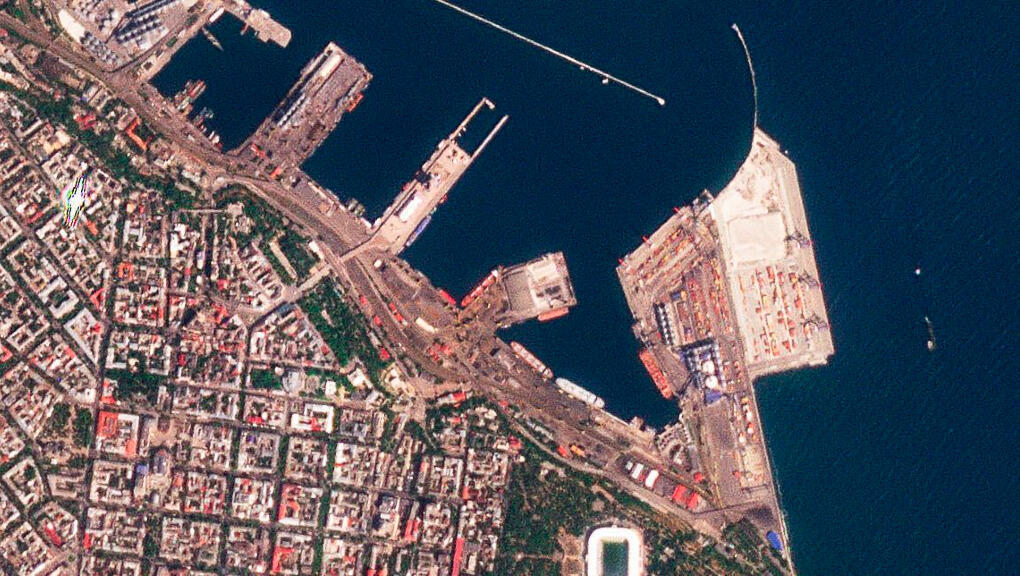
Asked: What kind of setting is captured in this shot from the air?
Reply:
port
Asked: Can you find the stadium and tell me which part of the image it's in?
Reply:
bottom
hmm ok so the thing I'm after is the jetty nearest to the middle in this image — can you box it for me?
[458,251,579,334]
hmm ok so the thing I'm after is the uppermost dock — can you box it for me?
[227,0,291,47]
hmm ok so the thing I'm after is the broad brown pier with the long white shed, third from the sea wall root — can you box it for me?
[223,41,372,183]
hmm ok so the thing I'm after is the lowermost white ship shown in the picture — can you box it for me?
[557,380,607,409]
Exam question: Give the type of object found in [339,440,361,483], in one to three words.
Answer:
building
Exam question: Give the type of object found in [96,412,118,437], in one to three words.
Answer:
building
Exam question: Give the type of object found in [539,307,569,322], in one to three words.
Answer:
ship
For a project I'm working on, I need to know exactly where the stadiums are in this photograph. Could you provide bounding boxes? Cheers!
[586,525,641,576]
